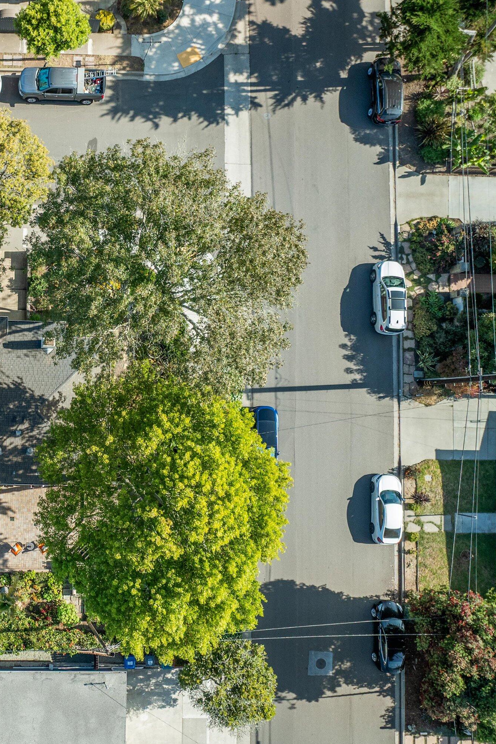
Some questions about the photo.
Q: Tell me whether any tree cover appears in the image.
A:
Yes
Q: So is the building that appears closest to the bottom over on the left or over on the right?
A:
left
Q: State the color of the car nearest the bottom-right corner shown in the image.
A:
black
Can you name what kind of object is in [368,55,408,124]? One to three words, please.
car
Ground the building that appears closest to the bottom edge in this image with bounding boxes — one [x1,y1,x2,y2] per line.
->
[0,655,144,744]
